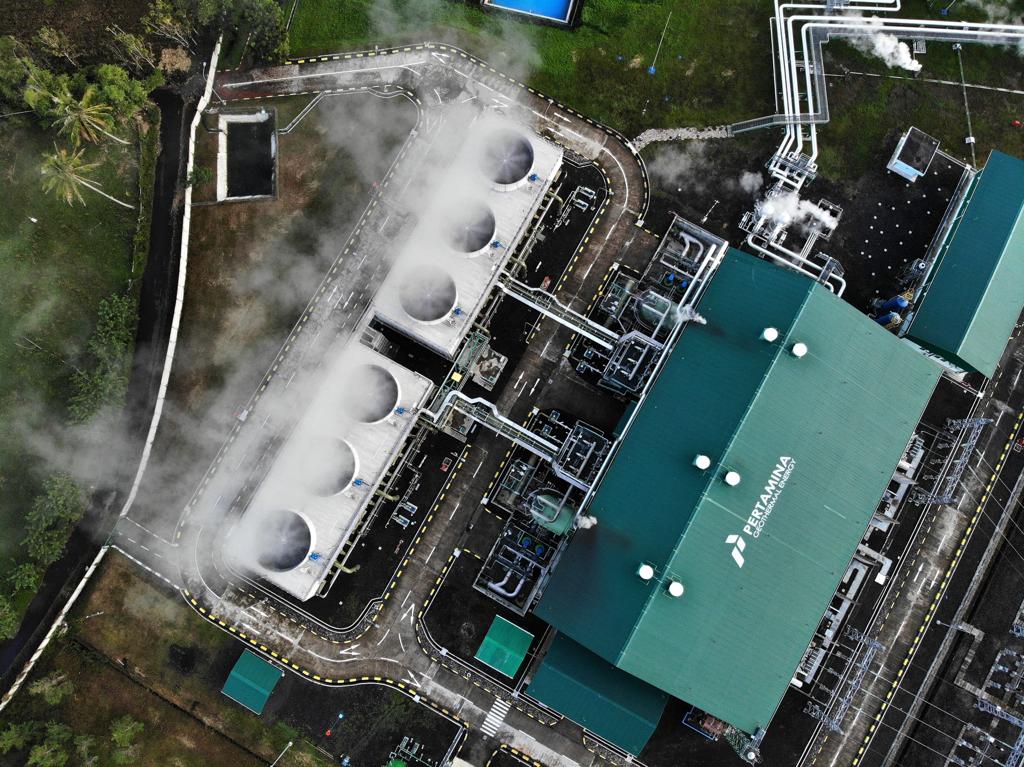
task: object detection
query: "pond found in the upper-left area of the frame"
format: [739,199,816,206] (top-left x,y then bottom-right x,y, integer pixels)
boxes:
[206,110,278,201]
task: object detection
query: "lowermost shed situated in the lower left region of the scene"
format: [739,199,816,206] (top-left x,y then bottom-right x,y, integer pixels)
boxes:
[221,646,286,714]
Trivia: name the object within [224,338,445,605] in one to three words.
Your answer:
cooling tower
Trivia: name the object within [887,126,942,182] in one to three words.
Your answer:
shed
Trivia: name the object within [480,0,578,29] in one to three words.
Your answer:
pond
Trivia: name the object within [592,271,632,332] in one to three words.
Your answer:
storage tank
